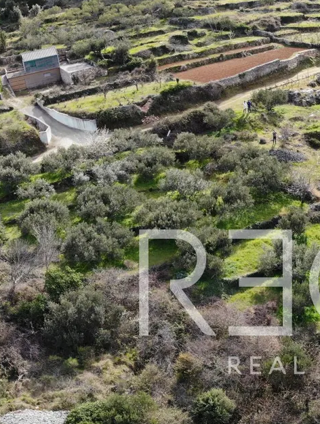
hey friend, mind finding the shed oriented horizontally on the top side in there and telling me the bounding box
[2,56,93,100]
